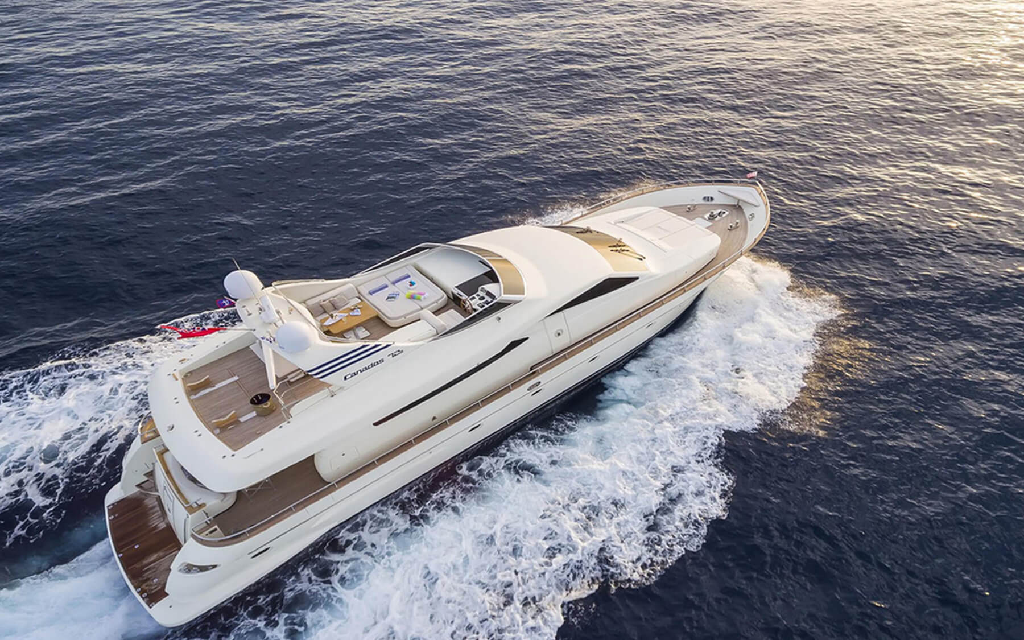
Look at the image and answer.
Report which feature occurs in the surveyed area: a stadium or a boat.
boat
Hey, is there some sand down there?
No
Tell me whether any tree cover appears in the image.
No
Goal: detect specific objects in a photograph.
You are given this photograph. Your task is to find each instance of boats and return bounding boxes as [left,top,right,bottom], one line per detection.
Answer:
[104,175,770,629]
